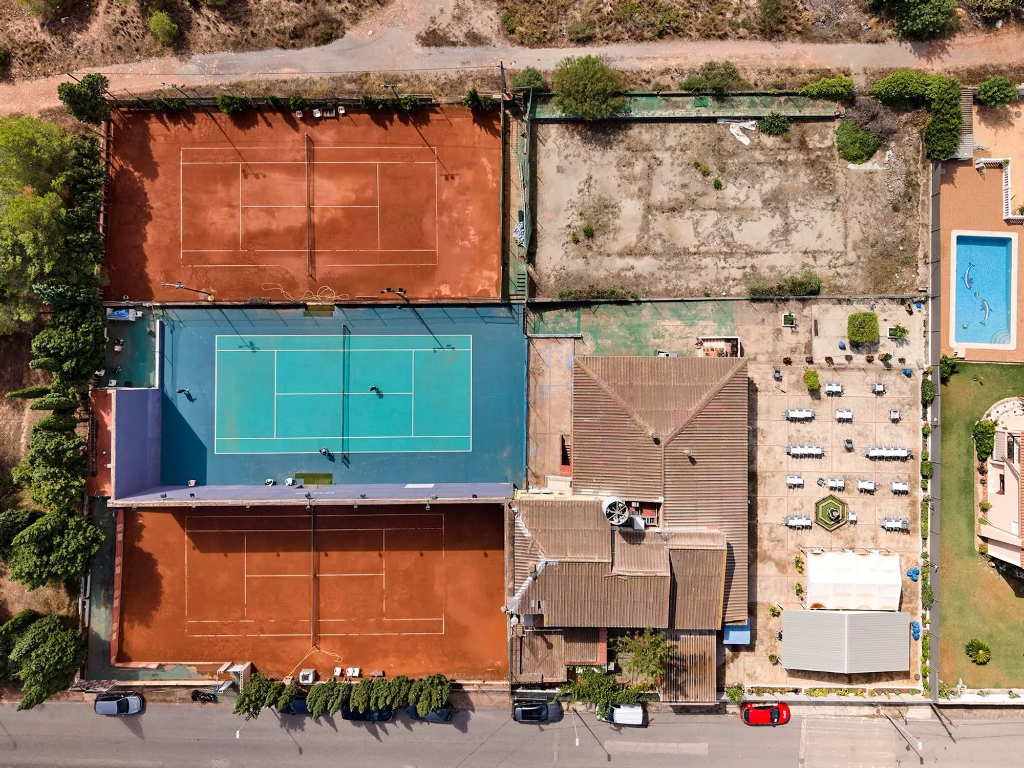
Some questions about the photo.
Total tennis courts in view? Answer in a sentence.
There are 3 tennis courts in the image.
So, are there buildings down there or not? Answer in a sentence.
Yes, looking at the shot, I can spot a building.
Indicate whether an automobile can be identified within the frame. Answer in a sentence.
Yes, an automobile appears in the view.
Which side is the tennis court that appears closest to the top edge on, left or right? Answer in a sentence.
You can find the tennis court that appears closest to the top edge on the left side of the picture.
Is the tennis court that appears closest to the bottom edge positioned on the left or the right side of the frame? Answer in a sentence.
It is on the left.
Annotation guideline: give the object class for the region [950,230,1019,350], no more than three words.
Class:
swimming pool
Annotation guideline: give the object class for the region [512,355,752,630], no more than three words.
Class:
building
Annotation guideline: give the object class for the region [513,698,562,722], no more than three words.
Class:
car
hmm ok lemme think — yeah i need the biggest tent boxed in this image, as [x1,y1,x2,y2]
[799,547,900,610]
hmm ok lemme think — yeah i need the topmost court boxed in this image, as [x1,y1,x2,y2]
[105,105,502,301]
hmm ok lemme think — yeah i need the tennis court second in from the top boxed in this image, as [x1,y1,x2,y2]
[159,304,527,487]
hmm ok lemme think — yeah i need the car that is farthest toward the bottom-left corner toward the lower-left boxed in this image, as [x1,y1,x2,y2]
[94,689,146,716]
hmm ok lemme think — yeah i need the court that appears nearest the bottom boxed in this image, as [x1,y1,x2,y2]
[117,504,508,684]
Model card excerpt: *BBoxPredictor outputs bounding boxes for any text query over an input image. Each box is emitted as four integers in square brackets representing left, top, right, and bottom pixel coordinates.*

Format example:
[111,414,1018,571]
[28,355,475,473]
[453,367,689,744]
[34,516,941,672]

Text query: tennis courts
[117,504,508,684]
[159,304,527,487]
[105,105,502,301]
